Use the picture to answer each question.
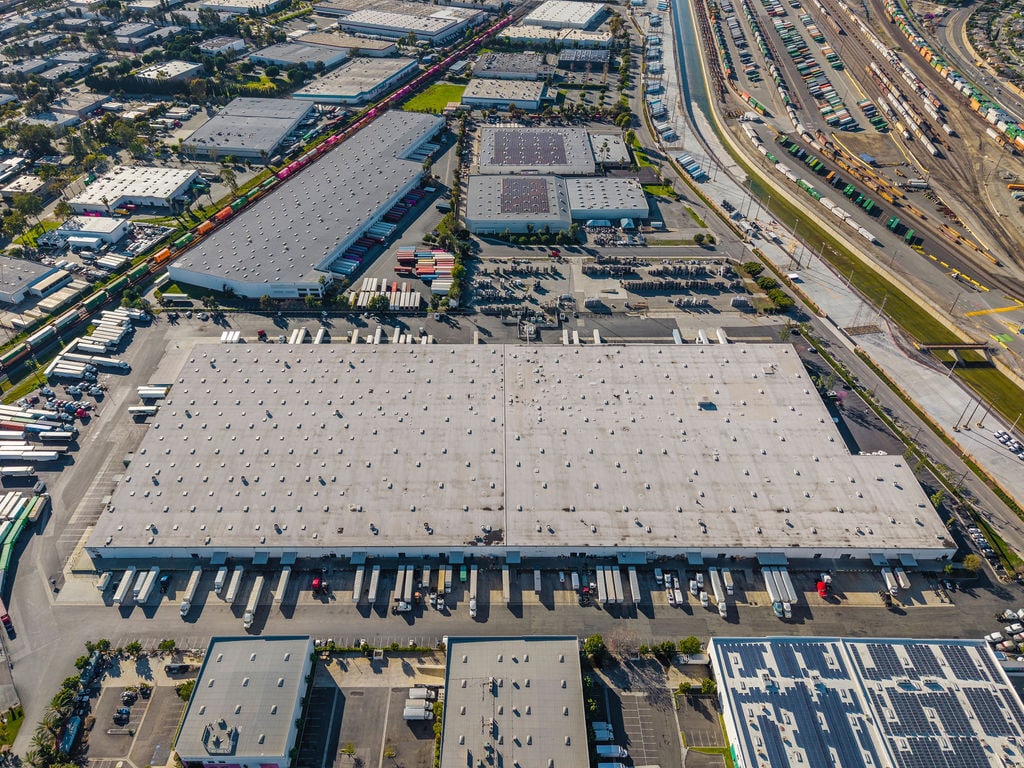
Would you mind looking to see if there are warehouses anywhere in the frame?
Yes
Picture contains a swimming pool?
No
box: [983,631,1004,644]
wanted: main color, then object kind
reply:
white vehicle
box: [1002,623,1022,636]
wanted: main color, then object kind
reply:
white vehicle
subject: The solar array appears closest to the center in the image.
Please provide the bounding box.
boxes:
[501,178,549,213]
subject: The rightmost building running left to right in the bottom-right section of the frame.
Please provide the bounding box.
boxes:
[707,638,1024,768]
